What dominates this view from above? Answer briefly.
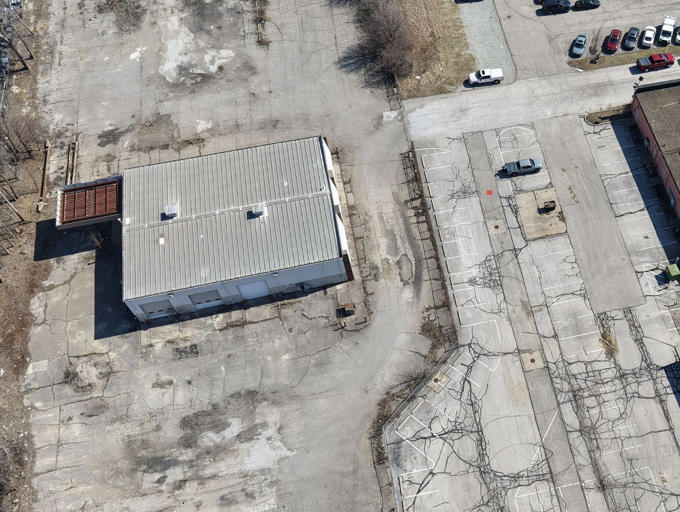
paved ground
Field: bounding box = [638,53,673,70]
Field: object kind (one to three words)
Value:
vehicle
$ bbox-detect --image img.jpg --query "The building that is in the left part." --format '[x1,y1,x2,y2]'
[122,131,355,321]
